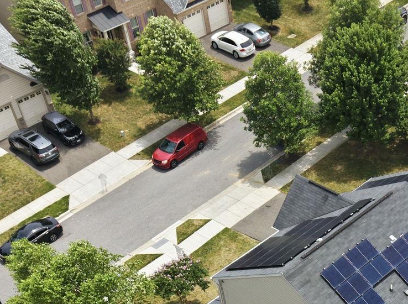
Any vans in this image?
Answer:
Yes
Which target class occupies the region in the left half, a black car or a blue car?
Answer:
black car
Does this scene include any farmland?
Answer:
No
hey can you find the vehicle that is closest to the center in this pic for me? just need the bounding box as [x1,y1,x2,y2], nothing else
[149,125,215,176]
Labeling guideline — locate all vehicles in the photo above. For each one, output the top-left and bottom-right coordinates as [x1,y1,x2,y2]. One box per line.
[149,125,215,176]
[227,22,275,50]
[0,218,73,271]
[211,33,258,63]
[6,126,62,167]
[33,109,86,149]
